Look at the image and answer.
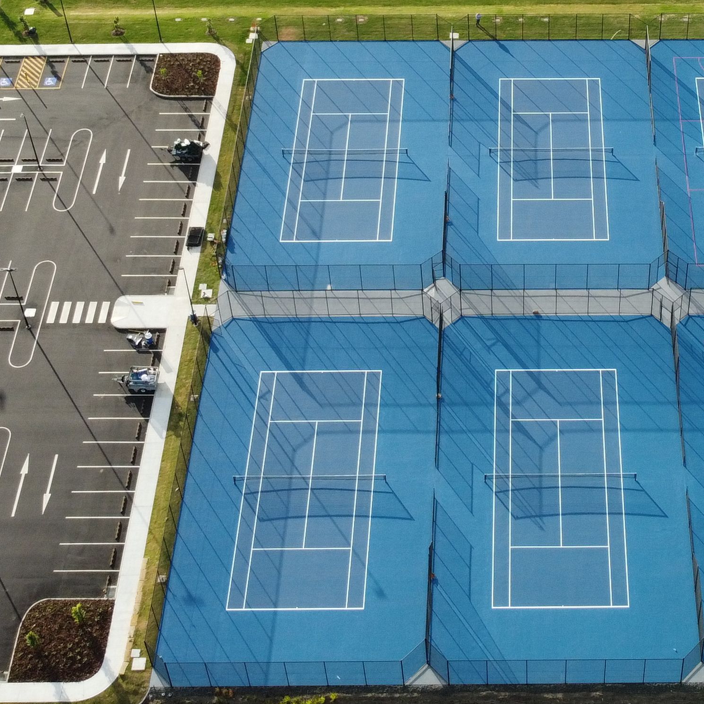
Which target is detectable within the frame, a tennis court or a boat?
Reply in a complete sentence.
It is a tennis court that can be seen here.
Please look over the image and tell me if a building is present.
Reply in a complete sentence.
No, I can see no building in this picture.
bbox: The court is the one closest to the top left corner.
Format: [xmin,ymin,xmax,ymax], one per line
[222,39,452,291]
